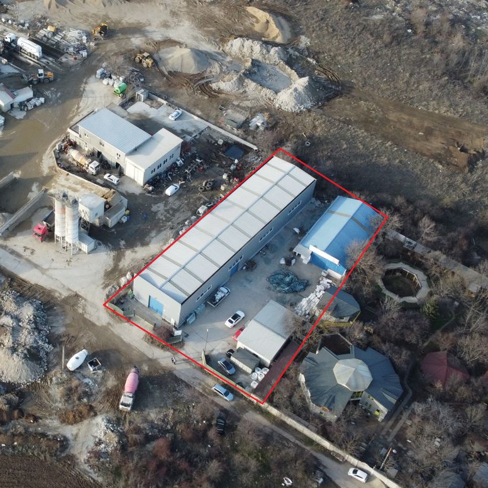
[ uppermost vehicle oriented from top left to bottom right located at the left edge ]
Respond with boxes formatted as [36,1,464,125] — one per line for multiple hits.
[7,31,41,59]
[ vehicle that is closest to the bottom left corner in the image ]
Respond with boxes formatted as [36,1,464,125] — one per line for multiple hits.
[118,365,140,411]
